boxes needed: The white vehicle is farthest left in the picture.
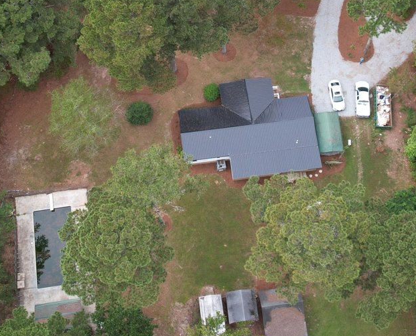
[328,81,346,112]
